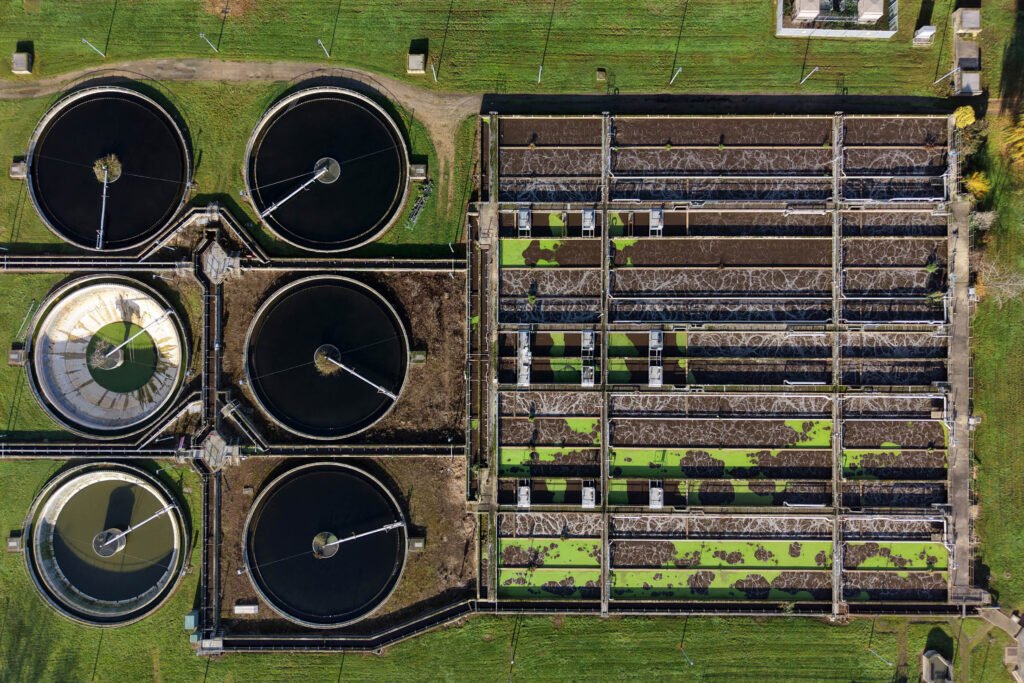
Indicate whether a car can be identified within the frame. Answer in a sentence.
No, the frame has no car in it.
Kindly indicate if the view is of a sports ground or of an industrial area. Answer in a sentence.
This image shows an industrial area.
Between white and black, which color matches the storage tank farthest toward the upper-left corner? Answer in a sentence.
In this view, the storage tank farthest toward the upper-left corner is black.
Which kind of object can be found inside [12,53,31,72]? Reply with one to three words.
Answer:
shed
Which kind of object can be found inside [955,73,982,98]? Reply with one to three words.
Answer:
building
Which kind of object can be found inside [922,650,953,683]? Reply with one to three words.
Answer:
building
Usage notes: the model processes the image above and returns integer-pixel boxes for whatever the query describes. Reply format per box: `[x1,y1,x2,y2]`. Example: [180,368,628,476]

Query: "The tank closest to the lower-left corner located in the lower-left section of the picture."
[23,462,190,628]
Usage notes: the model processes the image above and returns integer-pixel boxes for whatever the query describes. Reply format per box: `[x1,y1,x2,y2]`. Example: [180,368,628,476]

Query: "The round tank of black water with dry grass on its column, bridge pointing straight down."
[26,86,192,251]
